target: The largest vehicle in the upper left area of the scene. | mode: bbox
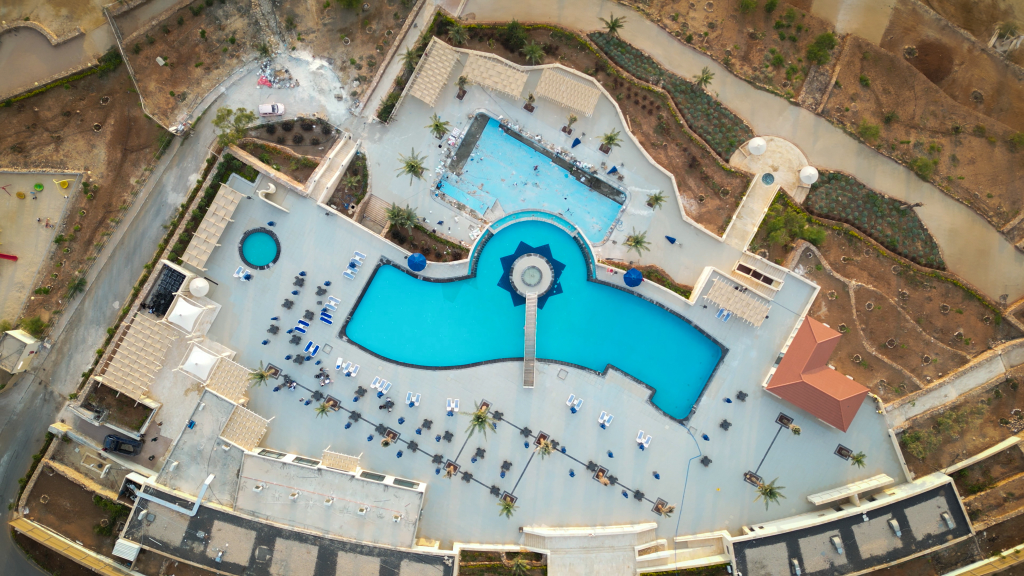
[257,101,284,116]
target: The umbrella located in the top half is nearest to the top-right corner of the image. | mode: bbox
[798,166,819,184]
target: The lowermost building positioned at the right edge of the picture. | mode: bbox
[724,468,974,576]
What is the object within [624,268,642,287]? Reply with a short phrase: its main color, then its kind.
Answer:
blue umbrella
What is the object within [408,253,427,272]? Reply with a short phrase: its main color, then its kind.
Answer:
blue umbrella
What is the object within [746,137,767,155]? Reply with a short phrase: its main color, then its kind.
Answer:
white umbrella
